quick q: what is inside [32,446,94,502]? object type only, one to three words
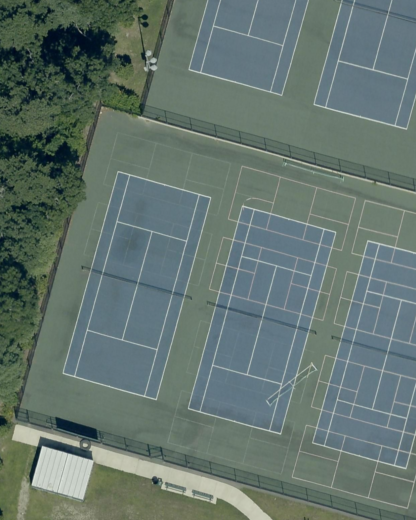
shed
